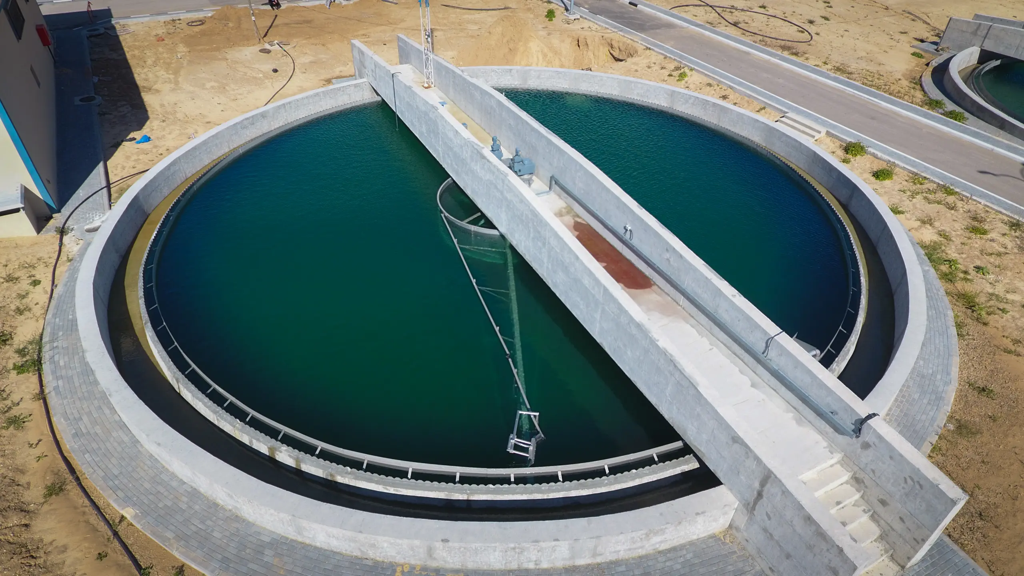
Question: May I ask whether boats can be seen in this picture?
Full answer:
No, I can see no boat in this picture.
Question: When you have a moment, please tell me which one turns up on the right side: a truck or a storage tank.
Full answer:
There is a storage tank on the right side.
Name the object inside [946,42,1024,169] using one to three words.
storage tank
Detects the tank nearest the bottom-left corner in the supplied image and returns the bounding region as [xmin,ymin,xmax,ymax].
[74,64,927,571]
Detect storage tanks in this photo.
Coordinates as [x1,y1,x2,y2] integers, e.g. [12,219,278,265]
[946,42,1024,169]
[74,64,927,571]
